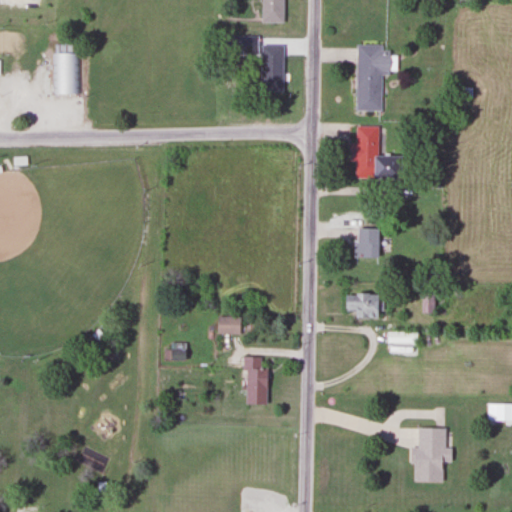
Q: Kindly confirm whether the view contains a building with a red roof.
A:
Yes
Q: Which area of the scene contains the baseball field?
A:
left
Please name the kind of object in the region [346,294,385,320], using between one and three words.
house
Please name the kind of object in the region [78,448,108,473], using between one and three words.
building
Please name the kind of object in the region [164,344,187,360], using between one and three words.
shed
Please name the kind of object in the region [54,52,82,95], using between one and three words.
barn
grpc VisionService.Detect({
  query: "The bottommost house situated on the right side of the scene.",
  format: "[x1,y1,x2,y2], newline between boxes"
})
[408,428,454,484]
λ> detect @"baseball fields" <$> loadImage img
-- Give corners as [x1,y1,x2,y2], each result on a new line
[0,159,145,358]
